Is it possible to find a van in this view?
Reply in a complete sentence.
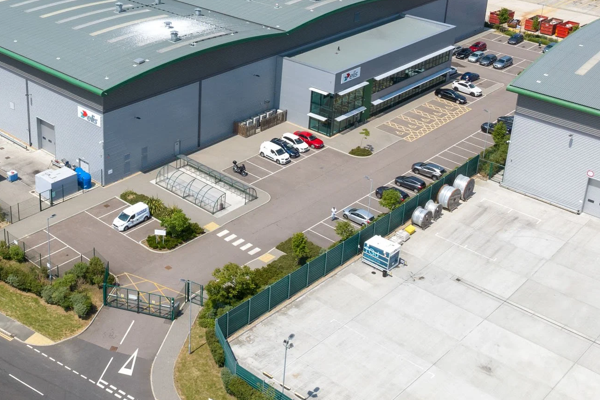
Yes, there's a van down there.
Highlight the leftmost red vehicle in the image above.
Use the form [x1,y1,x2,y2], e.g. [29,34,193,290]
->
[294,131,325,150]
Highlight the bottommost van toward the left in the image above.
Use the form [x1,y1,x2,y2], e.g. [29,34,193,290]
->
[113,199,149,230]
